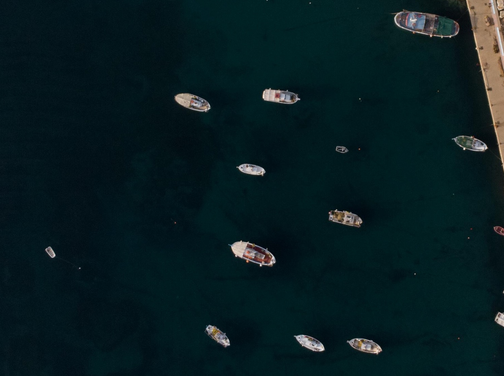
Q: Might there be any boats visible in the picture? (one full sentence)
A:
Yes, the frame does contain a boat.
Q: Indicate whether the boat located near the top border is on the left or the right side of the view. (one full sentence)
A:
You can find the boat located near the top border on the right side of the picture.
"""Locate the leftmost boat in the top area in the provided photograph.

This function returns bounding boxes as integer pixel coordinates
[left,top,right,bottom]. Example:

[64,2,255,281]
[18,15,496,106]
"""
[174,94,210,111]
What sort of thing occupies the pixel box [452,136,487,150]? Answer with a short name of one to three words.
boat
